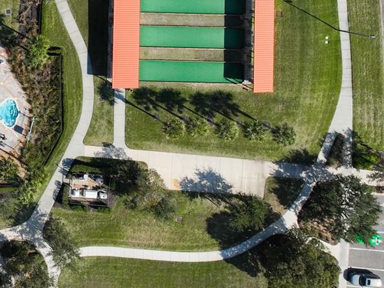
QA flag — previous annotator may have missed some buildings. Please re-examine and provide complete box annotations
[245,0,275,93]
[108,0,140,89]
